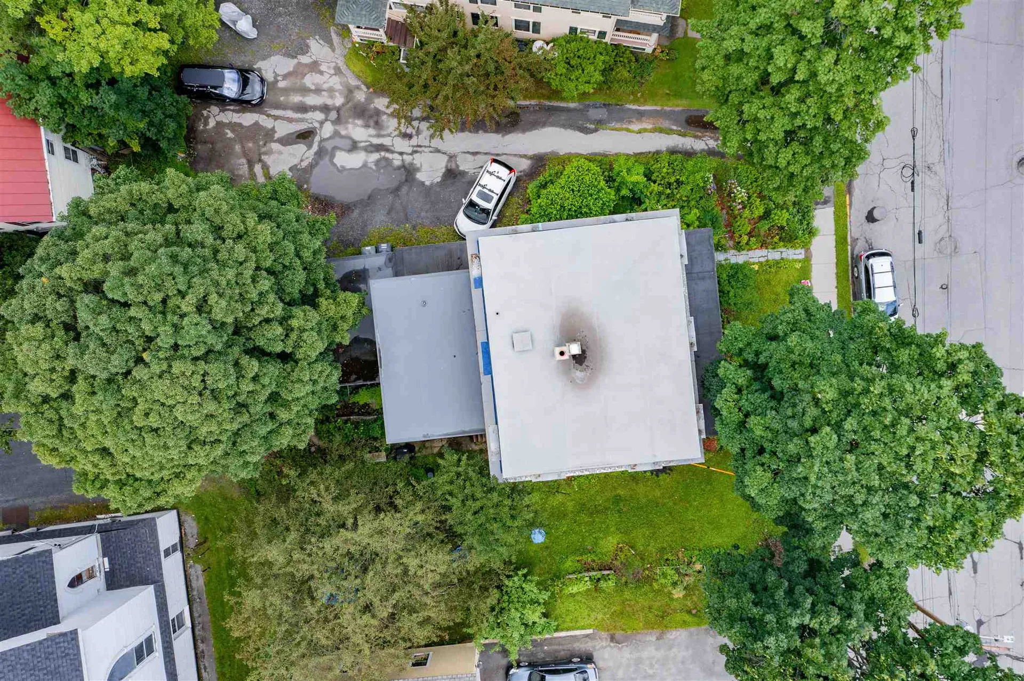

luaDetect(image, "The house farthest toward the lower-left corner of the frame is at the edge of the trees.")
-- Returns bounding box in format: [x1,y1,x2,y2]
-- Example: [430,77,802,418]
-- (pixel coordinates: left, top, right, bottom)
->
[0,511,199,681]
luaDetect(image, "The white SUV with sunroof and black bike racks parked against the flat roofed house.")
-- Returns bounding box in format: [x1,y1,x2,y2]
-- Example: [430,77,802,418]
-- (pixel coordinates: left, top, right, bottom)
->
[456,152,516,235]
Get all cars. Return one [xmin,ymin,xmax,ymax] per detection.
[509,657,600,681]
[456,152,516,235]
[854,244,907,328]
[172,60,266,108]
